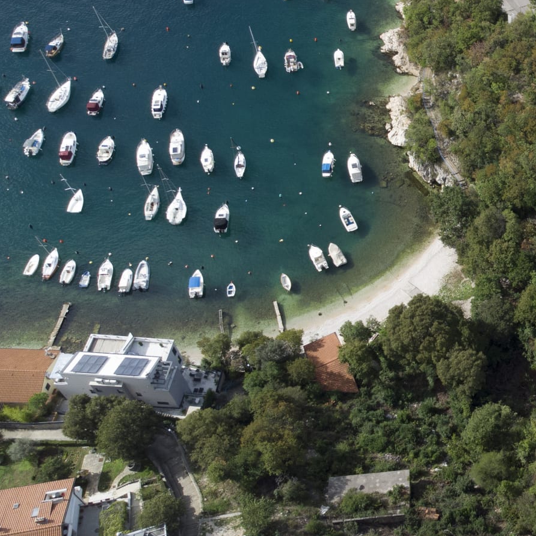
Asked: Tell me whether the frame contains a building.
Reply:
Yes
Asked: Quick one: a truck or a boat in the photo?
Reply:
boat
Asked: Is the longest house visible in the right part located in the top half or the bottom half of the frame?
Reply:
bottom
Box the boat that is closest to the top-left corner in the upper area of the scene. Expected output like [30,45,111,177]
[9,20,29,55]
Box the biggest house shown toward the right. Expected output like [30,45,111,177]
[305,332,359,393]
